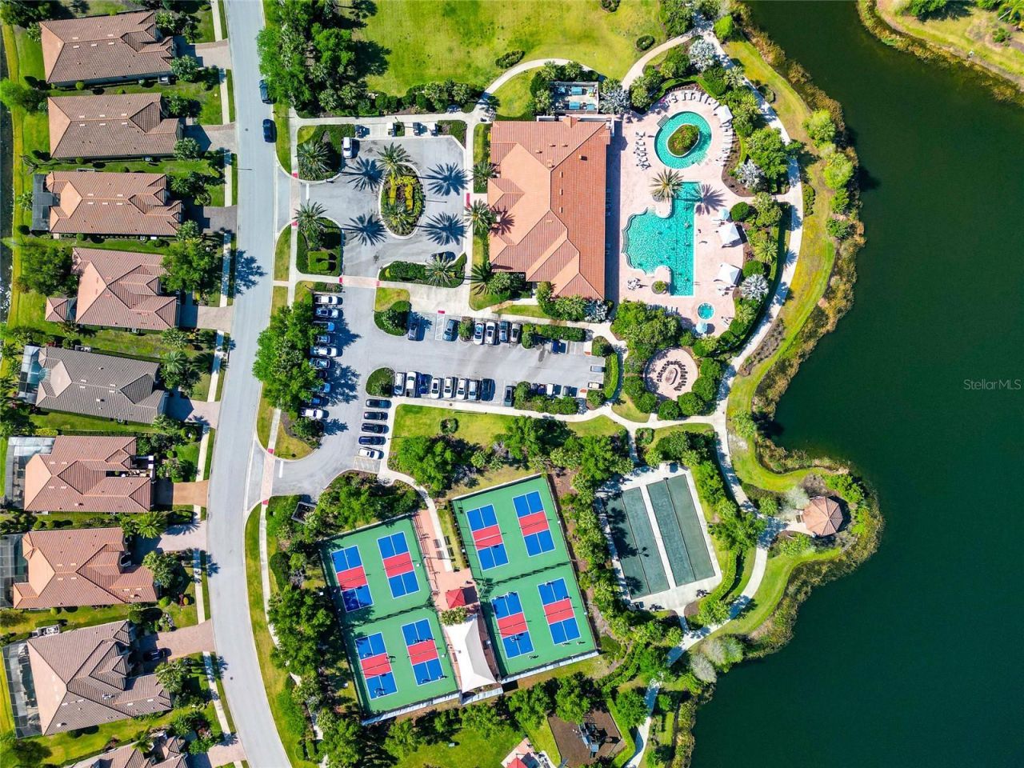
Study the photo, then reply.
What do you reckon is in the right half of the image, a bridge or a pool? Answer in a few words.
pool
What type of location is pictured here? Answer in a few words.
residential area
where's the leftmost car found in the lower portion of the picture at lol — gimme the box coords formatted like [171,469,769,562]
[144,647,167,660]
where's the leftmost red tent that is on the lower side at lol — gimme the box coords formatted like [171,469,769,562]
[445,585,467,610]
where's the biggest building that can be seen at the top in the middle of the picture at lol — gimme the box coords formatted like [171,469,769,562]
[487,112,613,300]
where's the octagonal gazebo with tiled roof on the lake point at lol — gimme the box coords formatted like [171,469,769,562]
[798,497,842,536]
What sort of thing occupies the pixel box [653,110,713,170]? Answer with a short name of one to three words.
swimming pool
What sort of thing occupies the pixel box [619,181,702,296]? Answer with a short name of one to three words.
swimming pool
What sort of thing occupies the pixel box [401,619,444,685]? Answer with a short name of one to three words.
sports court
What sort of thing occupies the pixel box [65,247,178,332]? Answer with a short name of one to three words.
house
